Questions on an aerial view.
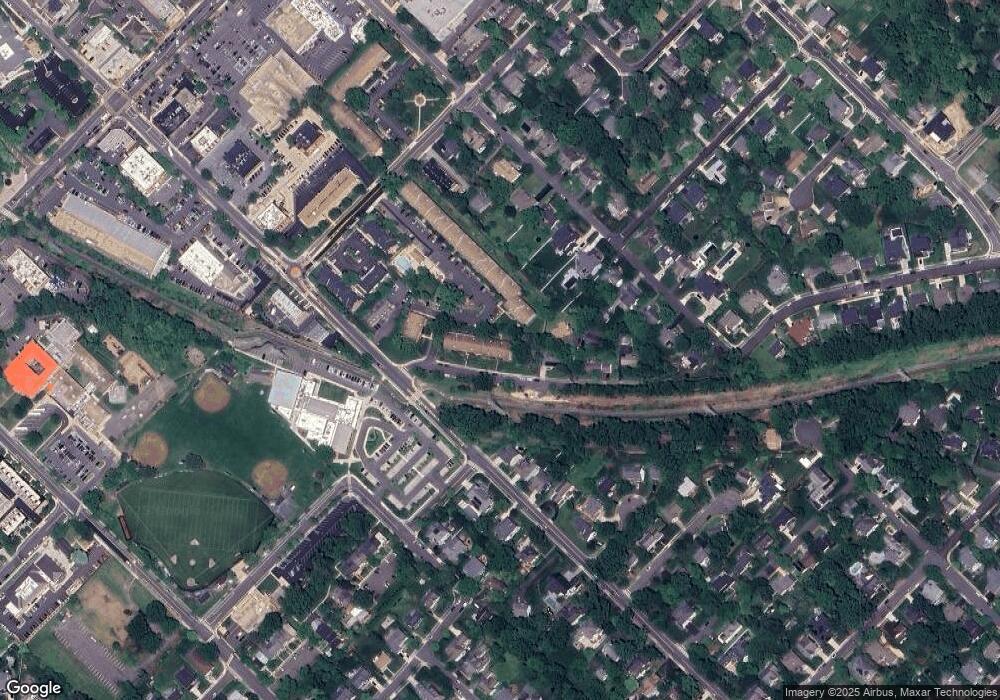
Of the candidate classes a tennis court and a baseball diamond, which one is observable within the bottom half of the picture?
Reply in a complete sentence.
The one visible within the bottom half of the picture is a baseball diamond.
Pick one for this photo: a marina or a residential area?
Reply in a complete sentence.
The picture captures a residential area.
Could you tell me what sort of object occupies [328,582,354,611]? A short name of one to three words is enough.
house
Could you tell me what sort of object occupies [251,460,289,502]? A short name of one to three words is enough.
baseball field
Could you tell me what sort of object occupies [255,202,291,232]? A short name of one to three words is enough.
building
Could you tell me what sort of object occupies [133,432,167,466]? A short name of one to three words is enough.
baseball field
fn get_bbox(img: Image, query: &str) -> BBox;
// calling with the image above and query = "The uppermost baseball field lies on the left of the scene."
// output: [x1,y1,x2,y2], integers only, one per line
[194,367,229,412]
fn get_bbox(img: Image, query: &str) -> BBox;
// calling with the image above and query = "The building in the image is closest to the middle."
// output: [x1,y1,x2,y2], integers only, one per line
[443,333,513,361]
